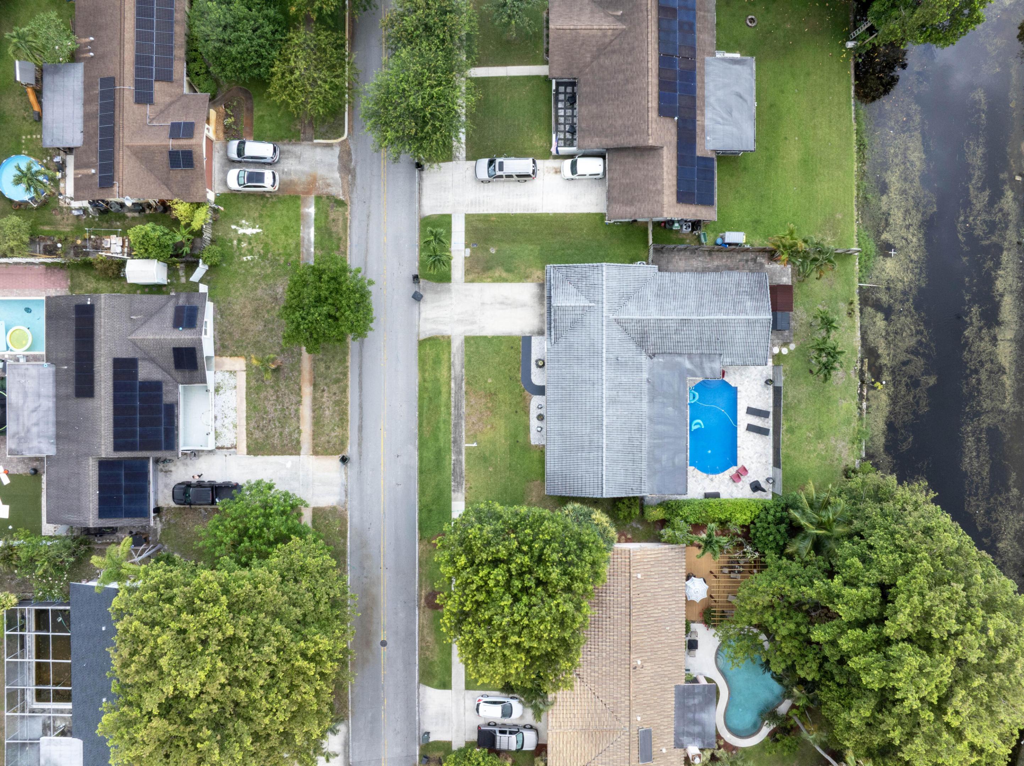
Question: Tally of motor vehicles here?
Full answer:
There are 7 motor vehicles in the image.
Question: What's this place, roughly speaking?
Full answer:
What you see here is a residential area.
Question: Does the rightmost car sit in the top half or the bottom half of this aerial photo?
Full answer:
You can find the rightmost car in the top half.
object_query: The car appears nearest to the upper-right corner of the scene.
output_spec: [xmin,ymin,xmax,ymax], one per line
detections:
[560,155,605,181]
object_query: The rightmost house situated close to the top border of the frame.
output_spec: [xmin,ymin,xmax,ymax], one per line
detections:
[549,0,756,222]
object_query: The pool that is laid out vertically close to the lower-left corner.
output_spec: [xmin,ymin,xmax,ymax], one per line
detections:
[32,609,71,705]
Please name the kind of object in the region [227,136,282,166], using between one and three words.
car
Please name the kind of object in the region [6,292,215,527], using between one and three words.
house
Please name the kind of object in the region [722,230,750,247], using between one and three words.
shed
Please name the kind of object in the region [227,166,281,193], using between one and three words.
car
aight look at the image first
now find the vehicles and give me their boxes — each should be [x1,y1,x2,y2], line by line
[227,136,282,166]
[477,721,539,752]
[227,166,281,193]
[172,480,245,509]
[560,155,605,181]
[476,692,523,721]
[475,154,537,184]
